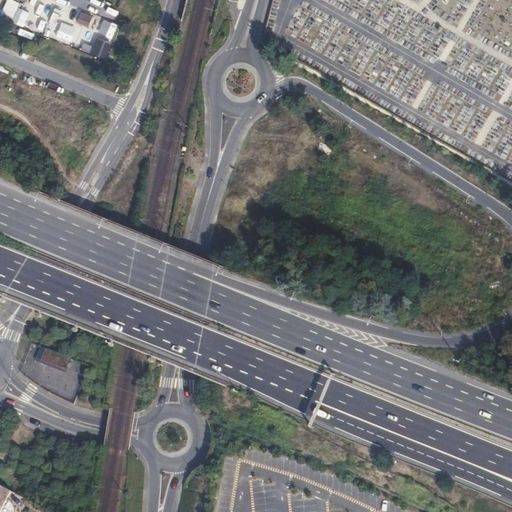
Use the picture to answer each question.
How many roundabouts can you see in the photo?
2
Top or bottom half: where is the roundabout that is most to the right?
top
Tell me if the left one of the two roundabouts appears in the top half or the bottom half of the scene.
bottom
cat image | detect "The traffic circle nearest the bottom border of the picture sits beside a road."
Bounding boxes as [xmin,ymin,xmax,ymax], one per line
[140,404,206,470]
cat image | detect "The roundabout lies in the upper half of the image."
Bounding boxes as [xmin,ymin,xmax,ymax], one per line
[207,48,276,118]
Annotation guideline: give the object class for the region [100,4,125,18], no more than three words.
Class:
camper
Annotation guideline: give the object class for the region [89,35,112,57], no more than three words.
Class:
house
